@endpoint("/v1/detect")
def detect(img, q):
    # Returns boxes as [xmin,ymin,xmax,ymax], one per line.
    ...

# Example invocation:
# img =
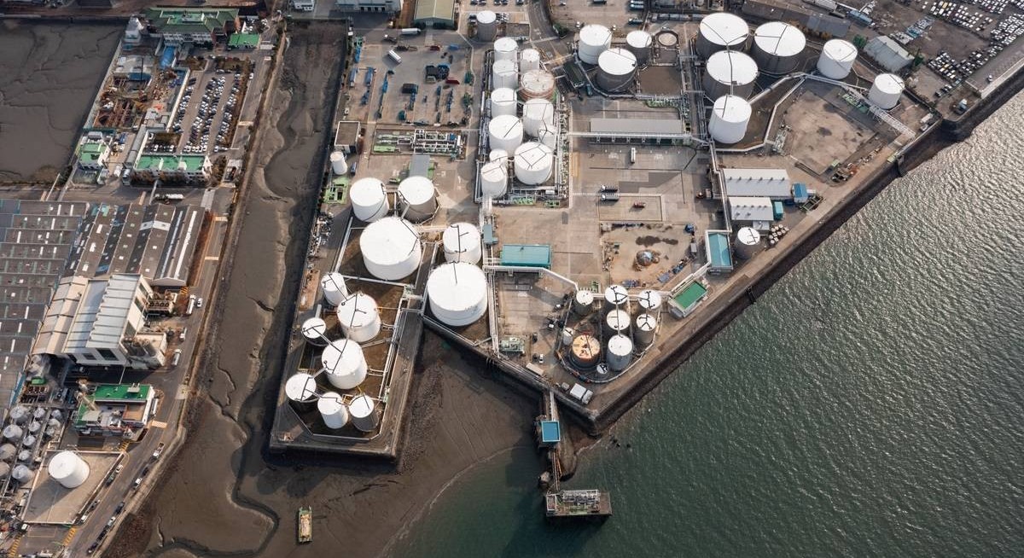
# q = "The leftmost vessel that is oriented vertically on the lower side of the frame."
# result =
[296,502,312,544]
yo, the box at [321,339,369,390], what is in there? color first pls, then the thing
white storage tank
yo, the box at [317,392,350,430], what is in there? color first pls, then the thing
white storage tank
